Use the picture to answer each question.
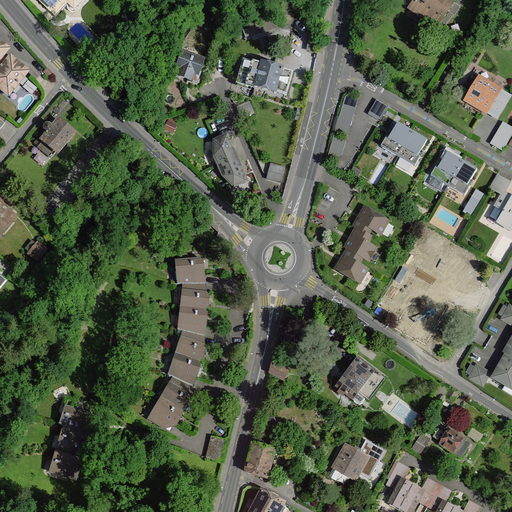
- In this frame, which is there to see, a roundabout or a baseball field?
roundabout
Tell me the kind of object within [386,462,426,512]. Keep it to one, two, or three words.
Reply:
house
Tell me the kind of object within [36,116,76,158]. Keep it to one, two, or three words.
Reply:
house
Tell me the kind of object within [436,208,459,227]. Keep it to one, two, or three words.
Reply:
swimming pool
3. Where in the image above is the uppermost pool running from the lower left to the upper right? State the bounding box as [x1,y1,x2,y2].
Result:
[18,94,34,111]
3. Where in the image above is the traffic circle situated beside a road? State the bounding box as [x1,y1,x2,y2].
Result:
[248,226,310,290]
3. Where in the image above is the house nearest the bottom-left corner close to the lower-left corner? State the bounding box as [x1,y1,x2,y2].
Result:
[44,405,84,480]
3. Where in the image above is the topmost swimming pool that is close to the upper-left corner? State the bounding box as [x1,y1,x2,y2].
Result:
[69,22,92,42]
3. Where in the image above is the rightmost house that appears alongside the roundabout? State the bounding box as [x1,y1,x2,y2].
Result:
[334,204,390,283]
